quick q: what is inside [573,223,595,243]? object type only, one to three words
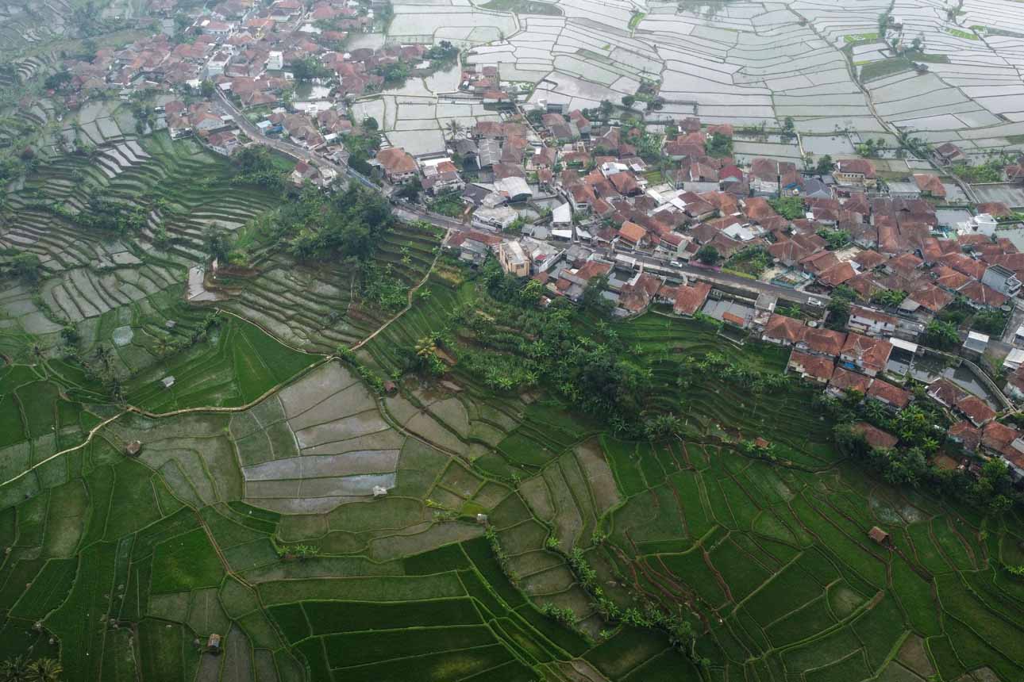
shed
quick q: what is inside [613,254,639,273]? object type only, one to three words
shed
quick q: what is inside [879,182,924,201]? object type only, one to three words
house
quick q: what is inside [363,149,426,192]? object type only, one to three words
house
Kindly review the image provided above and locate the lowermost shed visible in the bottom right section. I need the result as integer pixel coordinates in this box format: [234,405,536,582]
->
[869,521,894,545]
